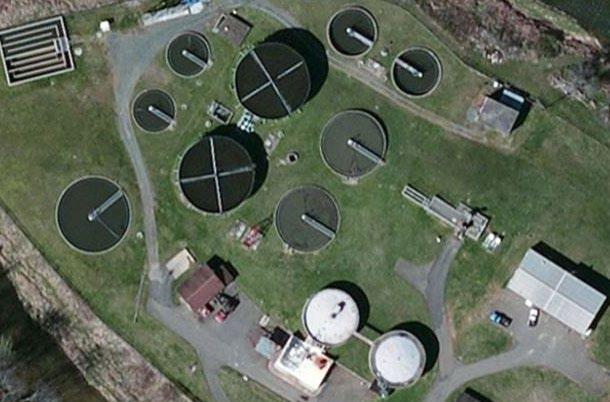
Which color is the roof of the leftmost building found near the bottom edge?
white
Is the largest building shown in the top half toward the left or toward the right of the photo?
right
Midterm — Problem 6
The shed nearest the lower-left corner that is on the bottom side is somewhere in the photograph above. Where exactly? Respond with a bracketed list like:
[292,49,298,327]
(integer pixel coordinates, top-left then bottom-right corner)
[178,265,224,313]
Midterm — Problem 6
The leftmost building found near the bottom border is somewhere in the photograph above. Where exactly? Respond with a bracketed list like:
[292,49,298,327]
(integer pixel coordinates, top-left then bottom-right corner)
[273,336,333,390]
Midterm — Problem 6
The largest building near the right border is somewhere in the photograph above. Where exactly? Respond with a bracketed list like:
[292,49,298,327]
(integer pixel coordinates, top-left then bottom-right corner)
[506,248,606,335]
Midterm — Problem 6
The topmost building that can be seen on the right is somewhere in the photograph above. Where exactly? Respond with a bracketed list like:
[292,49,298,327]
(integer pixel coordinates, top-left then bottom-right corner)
[476,97,519,133]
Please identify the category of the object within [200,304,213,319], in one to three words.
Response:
vehicle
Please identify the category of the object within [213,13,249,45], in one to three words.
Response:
shed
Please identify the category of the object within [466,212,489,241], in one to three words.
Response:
house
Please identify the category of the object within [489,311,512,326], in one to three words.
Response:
vehicle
